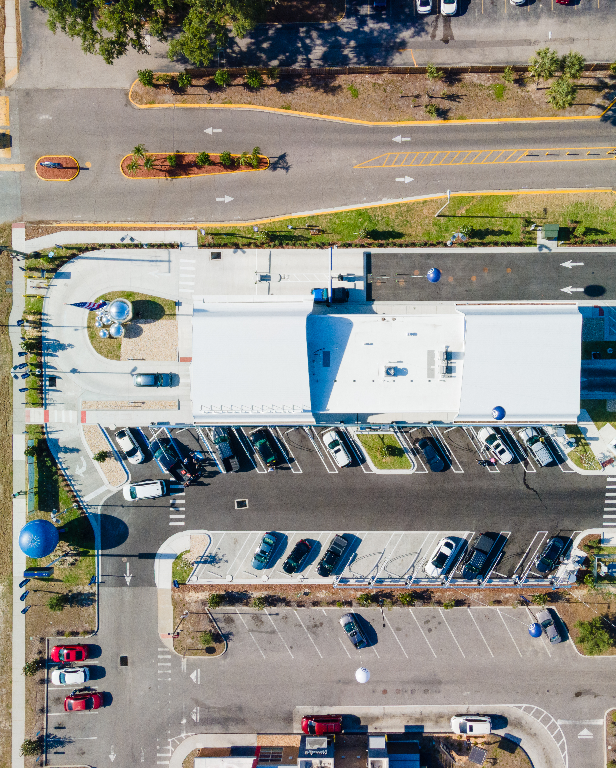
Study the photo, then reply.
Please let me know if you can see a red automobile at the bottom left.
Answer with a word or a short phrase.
Yes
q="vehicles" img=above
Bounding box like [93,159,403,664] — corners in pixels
[414,0,431,15]
[324,430,352,471]
[211,426,241,476]
[416,434,444,474]
[535,606,563,648]
[460,530,497,581]
[479,426,513,468]
[250,530,278,572]
[535,535,564,575]
[134,371,175,390]
[52,666,91,686]
[315,532,349,578]
[440,0,458,17]
[64,691,104,712]
[450,714,492,737]
[283,537,310,576]
[521,426,553,469]
[302,715,342,738]
[338,610,369,652]
[426,535,456,576]
[251,428,280,469]
[51,643,91,664]
[149,436,193,486]
[114,425,146,465]
[122,480,167,503]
